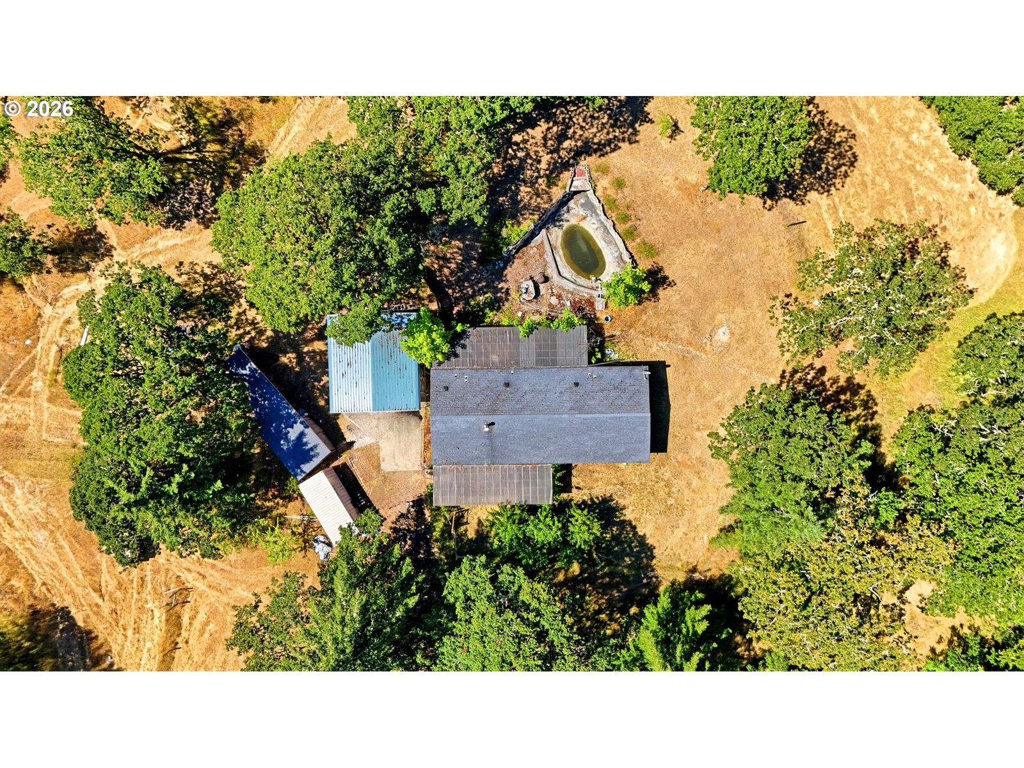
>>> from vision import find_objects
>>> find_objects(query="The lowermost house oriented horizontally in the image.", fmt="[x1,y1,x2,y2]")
[430,364,652,466]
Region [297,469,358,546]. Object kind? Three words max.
shed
